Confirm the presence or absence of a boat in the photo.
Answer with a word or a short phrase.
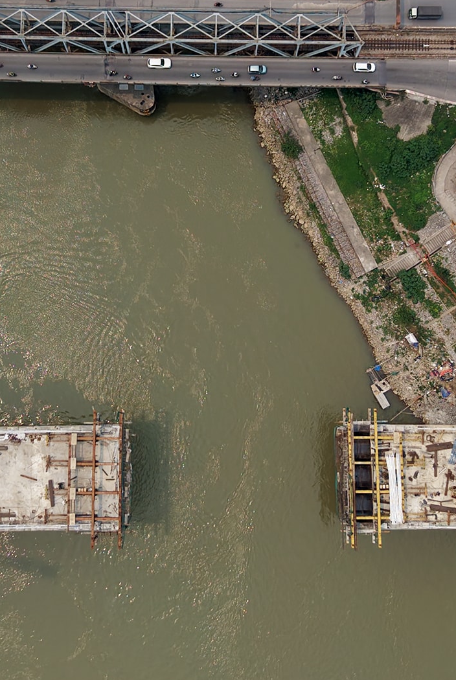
No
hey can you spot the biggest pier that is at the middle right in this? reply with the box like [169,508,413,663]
[366,370,390,409]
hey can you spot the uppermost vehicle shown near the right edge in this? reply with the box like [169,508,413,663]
[409,4,444,20]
